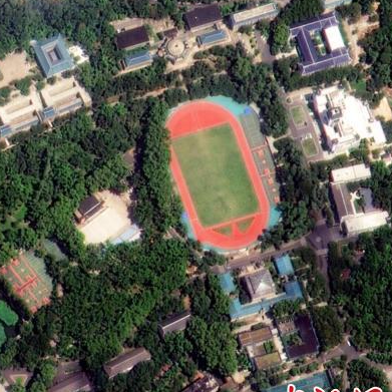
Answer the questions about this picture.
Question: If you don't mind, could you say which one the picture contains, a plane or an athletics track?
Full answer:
Of the two, only an athletics track appears.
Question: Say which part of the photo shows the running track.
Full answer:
You can find the running track in the center area of the picture.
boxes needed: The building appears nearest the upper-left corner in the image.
[34,34,75,79]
